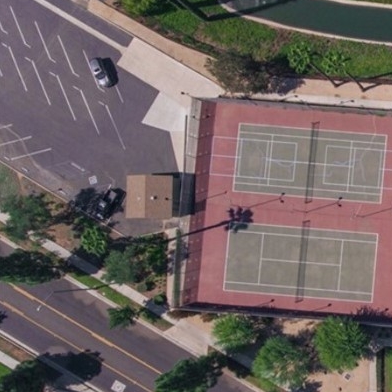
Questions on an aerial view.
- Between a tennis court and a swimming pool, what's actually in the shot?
tennis court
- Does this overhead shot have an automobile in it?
Yes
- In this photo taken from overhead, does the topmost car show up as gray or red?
gray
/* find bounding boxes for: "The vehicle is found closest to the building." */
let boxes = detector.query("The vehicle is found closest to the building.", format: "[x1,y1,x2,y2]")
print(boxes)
[88,186,117,221]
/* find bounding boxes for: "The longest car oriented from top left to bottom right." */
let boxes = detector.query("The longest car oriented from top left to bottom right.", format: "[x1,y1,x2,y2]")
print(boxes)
[86,56,111,88]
